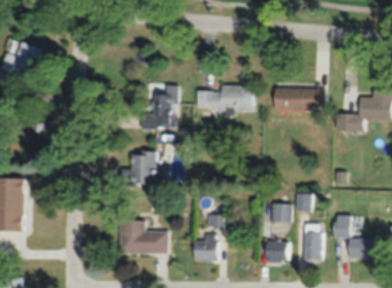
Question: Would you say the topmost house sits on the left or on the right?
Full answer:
The topmost house sits on the left side.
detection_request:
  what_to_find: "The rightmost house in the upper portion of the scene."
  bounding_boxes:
[335,92,392,132]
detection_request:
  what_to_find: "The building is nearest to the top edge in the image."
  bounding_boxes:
[5,40,42,72]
